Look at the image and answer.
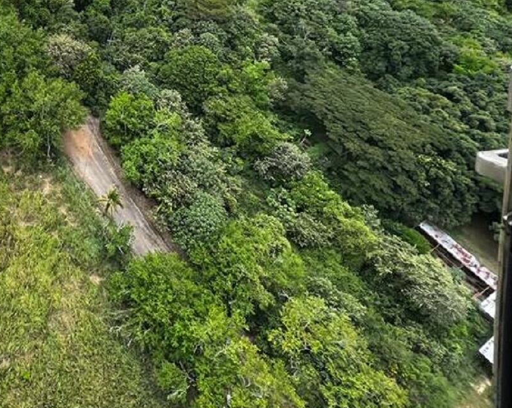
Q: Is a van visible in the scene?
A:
No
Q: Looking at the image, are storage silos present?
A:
No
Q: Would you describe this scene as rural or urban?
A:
rural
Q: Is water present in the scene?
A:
No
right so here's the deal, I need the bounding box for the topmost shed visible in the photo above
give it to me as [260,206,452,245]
[412,223,502,303]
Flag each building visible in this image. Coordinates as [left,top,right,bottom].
[477,339,499,377]
[412,223,502,303]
